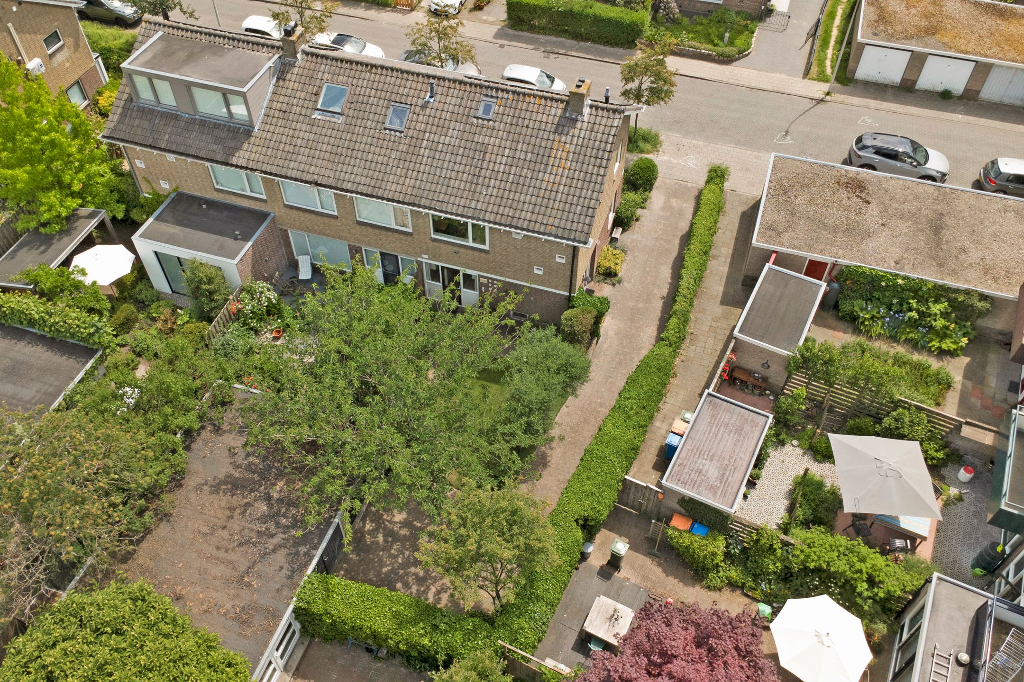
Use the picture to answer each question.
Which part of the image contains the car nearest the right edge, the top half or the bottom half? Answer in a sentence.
Seen from above, the car nearest the right edge lies in the top half of the view.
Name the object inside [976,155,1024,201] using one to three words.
car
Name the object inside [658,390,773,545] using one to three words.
shed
